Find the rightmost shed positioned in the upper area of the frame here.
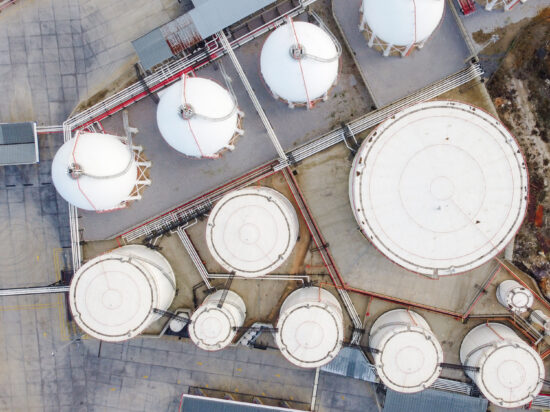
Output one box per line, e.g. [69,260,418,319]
[186,0,280,45]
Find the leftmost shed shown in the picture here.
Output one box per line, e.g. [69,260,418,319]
[132,28,176,73]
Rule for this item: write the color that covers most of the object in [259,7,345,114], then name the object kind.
white storage tank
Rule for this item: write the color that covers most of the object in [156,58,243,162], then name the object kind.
white storage tank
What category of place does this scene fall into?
industrial area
